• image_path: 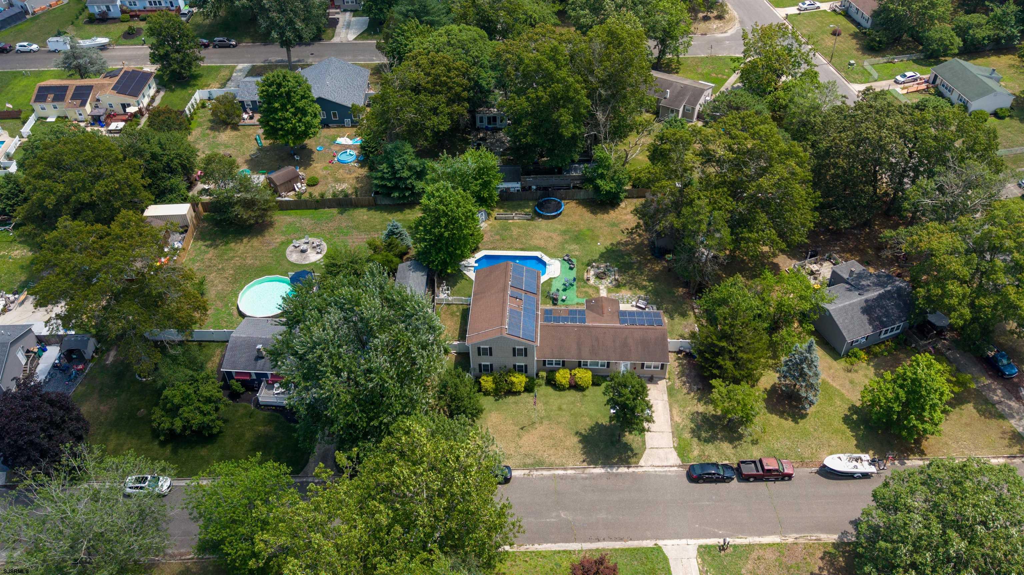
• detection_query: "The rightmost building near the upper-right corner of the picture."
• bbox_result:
[927,58,1016,114]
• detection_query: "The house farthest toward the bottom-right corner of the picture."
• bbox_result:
[799,259,916,356]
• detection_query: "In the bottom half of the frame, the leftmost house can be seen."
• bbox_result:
[0,324,38,405]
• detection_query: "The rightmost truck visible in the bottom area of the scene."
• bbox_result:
[986,347,1024,384]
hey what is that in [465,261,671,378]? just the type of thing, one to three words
house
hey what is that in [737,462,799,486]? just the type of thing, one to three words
truck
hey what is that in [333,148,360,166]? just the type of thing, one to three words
swimming pool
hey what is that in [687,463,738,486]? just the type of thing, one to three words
car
